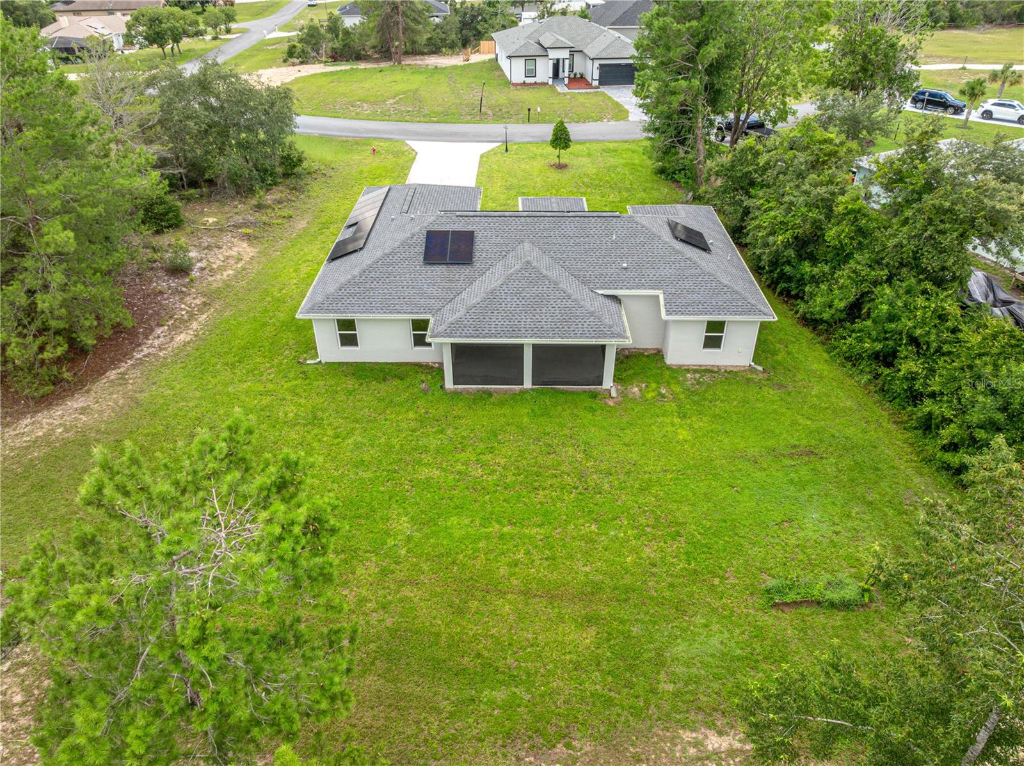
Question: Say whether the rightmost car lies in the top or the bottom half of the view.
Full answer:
The rightmost car is in the top half of the image.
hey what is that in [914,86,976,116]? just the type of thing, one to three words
car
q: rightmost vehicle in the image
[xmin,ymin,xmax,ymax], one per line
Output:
[981,99,1024,127]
